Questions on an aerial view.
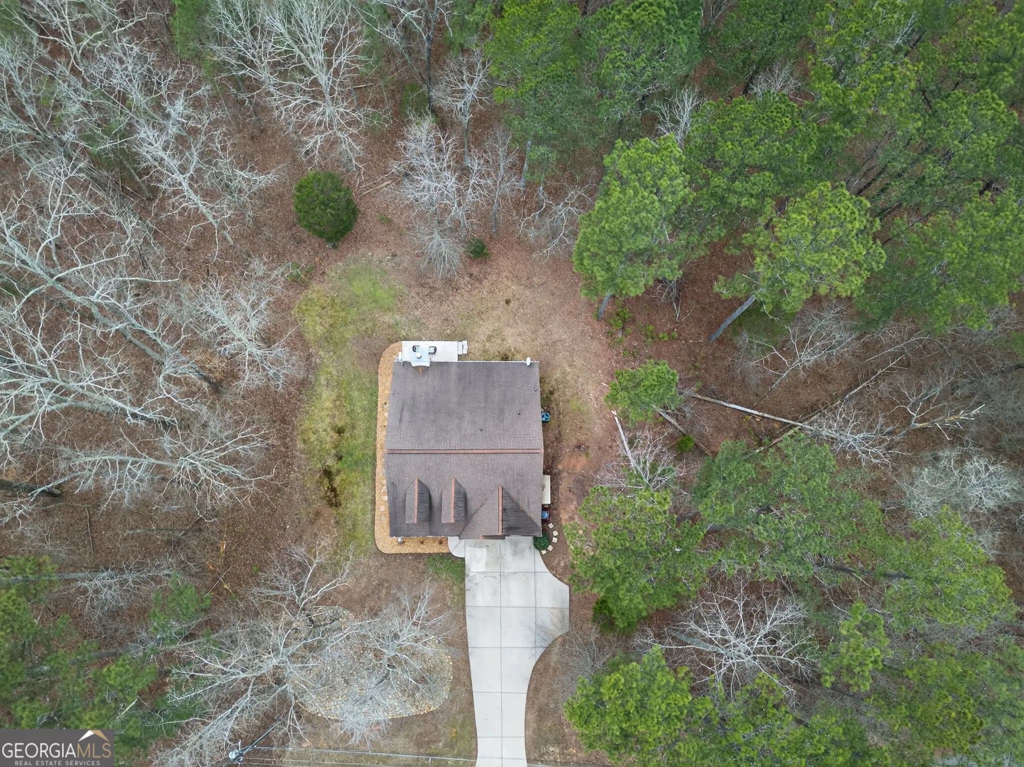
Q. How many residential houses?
1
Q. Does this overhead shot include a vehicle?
No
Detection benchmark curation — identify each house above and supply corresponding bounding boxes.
[386,351,543,540]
